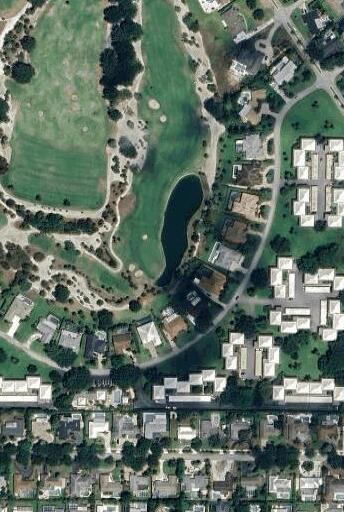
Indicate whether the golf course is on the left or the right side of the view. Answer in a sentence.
It is on the left.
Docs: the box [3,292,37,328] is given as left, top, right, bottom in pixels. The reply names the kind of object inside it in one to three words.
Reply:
house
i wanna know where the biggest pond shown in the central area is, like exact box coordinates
[160,174,203,286]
